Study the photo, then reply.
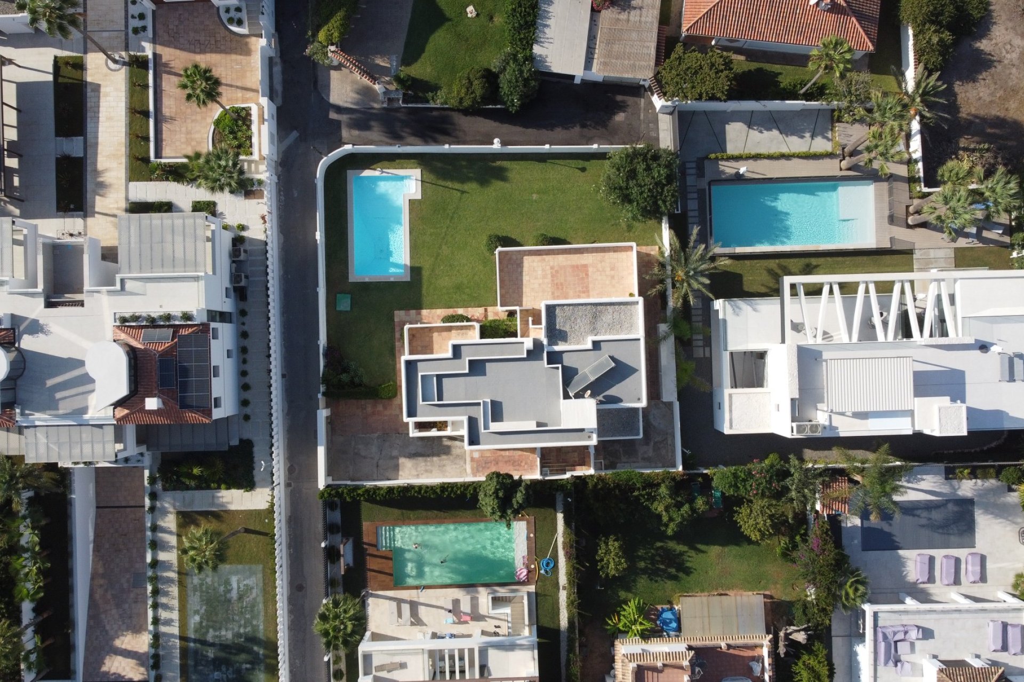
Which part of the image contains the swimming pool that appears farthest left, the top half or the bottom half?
top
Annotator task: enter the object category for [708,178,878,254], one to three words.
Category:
swimming pool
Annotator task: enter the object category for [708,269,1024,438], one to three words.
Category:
house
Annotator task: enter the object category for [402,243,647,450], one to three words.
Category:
house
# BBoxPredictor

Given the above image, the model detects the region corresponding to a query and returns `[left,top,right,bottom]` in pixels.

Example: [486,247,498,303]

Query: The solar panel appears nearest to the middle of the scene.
[566,355,615,399]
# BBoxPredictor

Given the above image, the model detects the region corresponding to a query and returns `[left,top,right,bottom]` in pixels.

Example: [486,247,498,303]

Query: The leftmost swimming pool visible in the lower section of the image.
[375,520,530,588]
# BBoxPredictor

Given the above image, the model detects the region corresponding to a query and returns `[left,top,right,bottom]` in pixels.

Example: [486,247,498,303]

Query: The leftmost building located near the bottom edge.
[358,590,540,682]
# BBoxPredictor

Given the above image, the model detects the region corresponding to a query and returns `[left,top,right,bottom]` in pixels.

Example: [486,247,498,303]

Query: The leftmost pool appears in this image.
[347,169,422,281]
